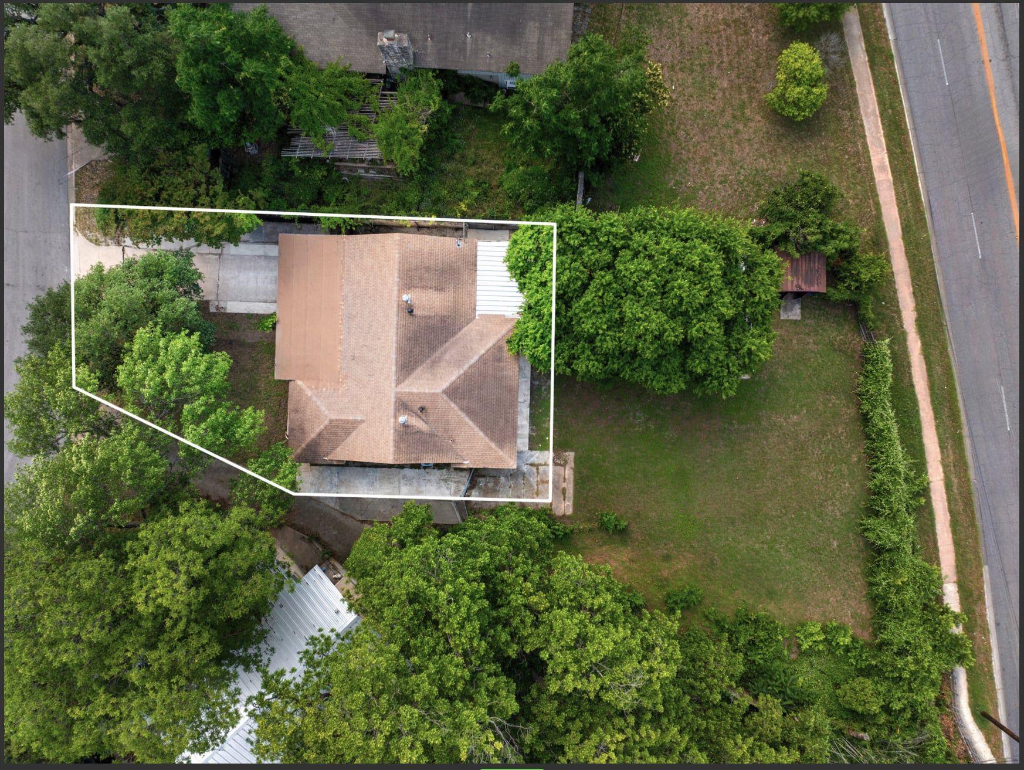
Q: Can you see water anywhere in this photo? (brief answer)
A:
No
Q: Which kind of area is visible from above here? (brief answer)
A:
residential area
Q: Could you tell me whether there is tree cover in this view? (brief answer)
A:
Yes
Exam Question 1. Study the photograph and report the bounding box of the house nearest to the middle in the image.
[273,230,531,468]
